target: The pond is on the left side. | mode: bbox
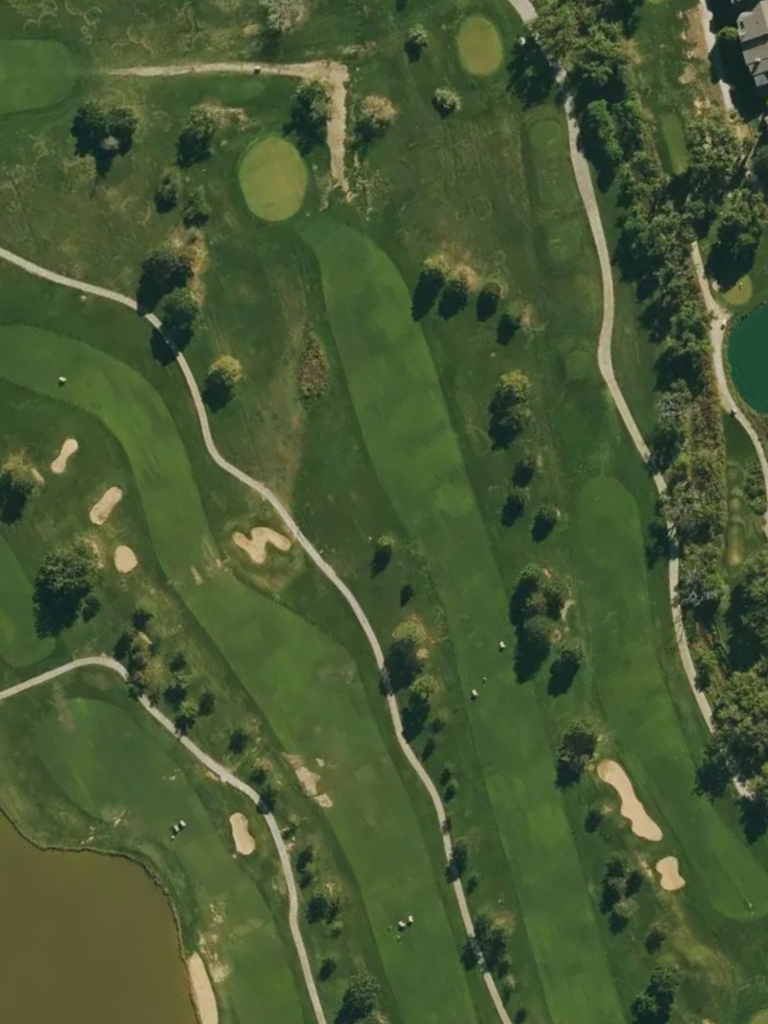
[0,808,197,1024]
